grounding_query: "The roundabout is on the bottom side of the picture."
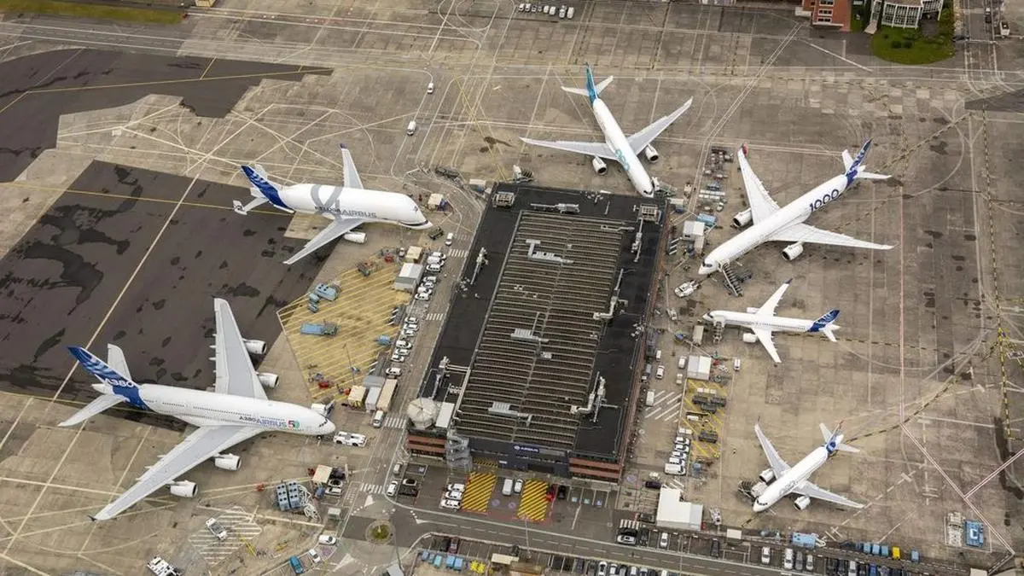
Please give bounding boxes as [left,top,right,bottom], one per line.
[364,519,396,546]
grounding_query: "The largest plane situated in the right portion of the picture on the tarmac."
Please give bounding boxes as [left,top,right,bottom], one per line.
[699,140,903,276]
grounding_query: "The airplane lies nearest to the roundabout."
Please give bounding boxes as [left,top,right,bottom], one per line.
[58,294,335,520]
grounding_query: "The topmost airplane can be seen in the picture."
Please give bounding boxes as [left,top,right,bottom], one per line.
[519,64,695,198]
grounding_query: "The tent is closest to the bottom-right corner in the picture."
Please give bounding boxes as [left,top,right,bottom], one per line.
[656,490,704,533]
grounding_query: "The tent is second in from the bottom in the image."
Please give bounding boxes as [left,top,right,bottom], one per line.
[685,356,713,384]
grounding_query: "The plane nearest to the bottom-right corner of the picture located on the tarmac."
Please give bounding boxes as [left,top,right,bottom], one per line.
[752,416,870,514]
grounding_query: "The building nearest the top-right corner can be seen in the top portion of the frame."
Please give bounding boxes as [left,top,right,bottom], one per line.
[882,0,948,33]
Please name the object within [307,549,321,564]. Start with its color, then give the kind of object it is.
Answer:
white car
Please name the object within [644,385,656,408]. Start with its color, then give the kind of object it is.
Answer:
white vehicle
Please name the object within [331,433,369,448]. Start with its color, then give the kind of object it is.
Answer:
white work vehicle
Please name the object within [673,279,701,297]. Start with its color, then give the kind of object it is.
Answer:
white work vehicle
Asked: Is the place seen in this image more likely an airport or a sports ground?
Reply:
airport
